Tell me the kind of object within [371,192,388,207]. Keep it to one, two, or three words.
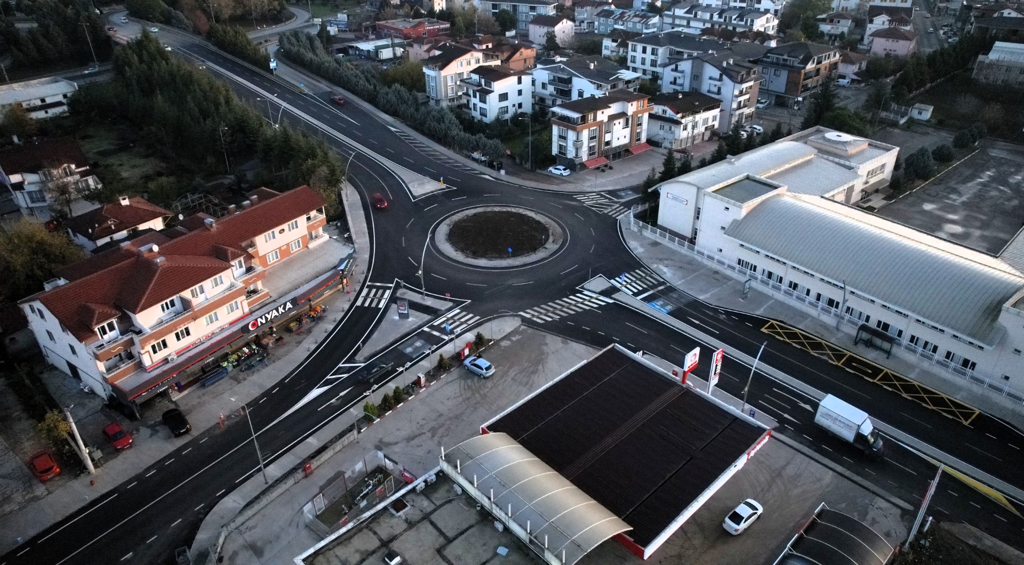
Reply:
car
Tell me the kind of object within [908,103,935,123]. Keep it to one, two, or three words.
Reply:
shed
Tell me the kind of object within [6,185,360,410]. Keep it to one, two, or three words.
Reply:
building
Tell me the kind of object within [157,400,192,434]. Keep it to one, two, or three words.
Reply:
car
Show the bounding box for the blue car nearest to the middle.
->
[461,356,498,379]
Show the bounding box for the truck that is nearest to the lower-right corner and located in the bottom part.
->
[819,400,890,461]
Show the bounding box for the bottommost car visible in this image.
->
[721,496,766,534]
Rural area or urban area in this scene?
urban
